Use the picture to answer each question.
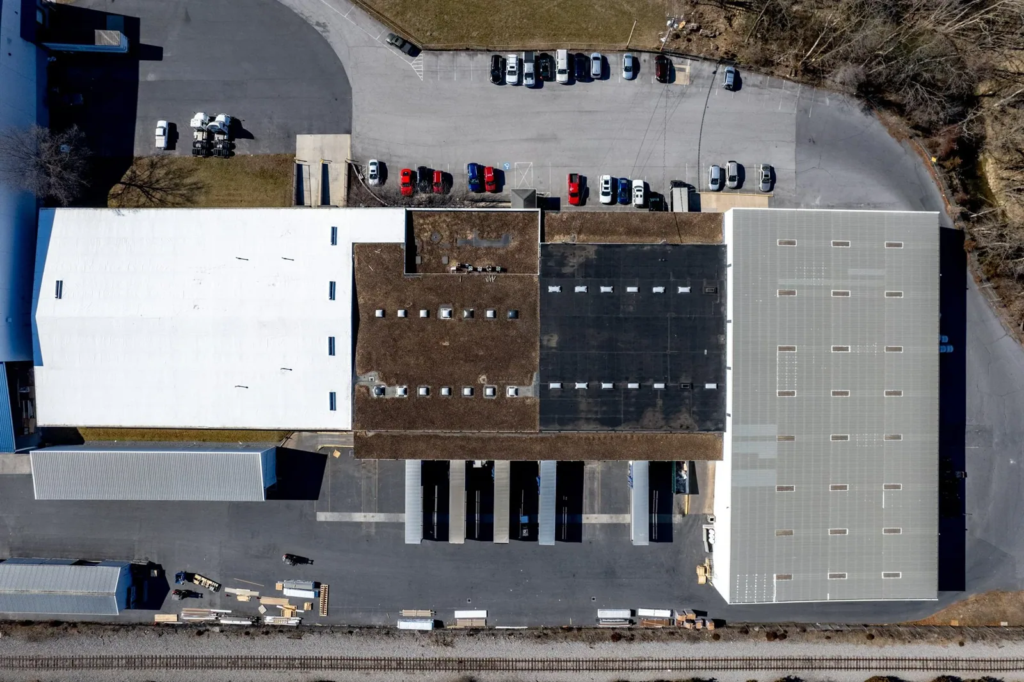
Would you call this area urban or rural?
urban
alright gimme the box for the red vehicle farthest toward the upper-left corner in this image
[400,168,413,197]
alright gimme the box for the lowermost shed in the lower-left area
[0,559,132,616]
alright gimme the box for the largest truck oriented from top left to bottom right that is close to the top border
[386,31,421,60]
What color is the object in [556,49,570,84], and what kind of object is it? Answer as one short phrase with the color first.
white car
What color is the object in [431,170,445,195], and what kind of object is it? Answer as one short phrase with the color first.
red car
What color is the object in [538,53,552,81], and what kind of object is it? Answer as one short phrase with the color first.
black car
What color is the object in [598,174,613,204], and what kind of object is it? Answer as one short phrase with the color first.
white car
